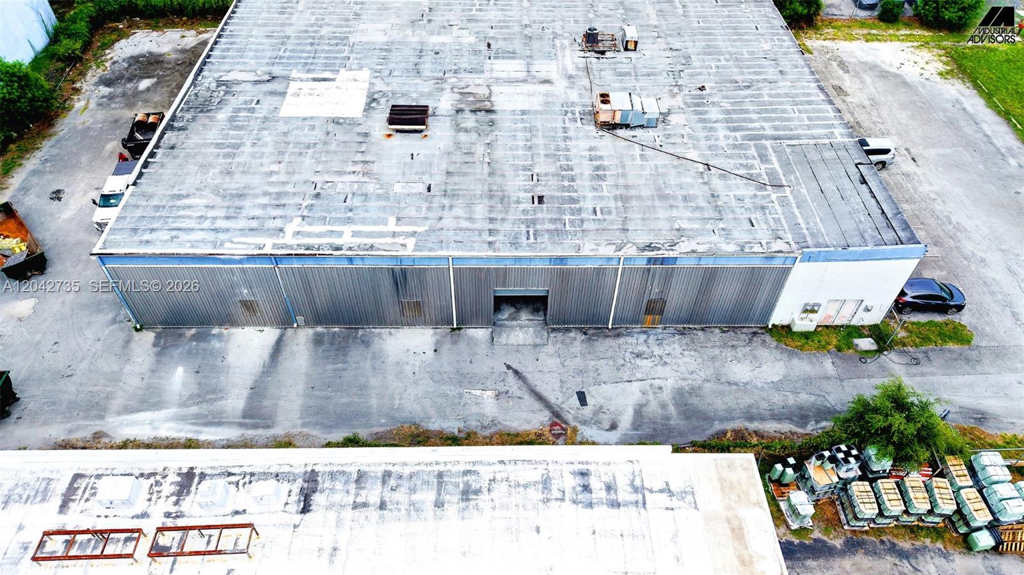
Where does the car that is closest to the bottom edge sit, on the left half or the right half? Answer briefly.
right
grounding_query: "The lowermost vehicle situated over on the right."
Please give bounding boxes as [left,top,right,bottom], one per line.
[894,279,968,315]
